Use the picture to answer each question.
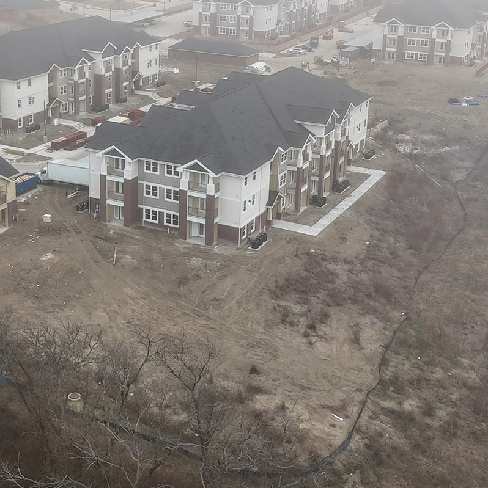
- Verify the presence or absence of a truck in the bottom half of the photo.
No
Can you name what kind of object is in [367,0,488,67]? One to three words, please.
building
